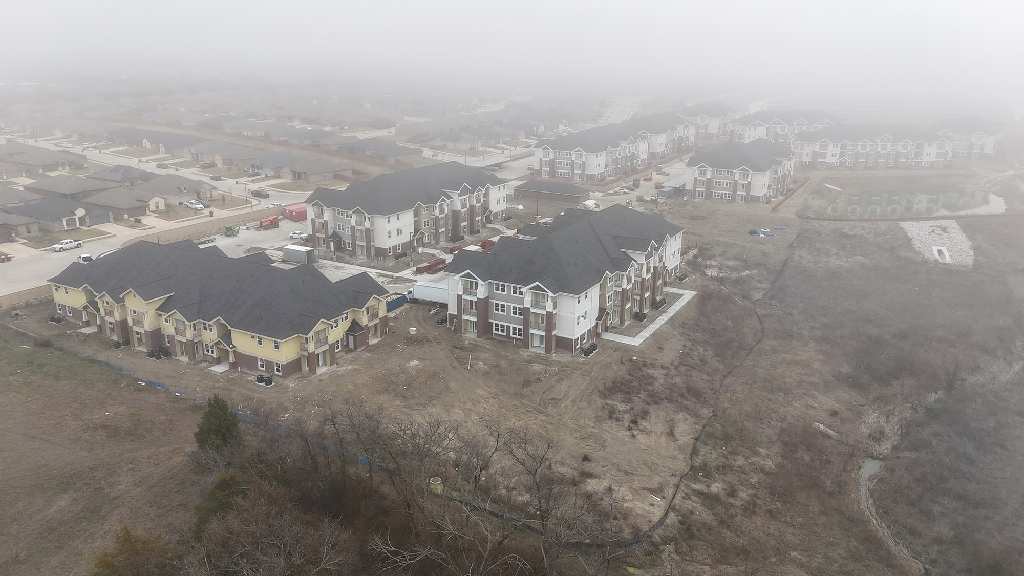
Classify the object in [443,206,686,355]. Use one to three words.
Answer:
building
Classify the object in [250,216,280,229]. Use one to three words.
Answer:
vehicle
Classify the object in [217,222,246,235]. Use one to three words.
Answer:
vehicle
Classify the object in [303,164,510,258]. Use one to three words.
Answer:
building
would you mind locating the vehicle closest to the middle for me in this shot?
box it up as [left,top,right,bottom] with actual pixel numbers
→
[406,278,447,305]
